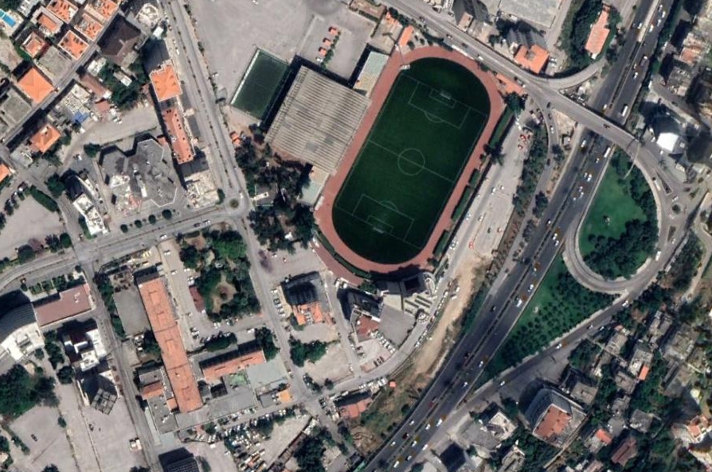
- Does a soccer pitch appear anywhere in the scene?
Yes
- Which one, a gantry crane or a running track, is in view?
running track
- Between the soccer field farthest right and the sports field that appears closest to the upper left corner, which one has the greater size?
the soccer field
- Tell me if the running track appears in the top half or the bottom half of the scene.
top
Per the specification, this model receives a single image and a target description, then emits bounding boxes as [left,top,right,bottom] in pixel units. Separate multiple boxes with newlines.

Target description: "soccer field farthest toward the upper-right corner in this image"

[335,56,489,265]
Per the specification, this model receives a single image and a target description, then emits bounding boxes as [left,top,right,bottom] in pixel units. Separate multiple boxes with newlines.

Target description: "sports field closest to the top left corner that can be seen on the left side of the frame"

[227,47,289,121]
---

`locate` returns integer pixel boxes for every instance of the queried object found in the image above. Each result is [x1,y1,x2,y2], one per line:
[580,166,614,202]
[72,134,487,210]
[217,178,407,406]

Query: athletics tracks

[322,45,498,275]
